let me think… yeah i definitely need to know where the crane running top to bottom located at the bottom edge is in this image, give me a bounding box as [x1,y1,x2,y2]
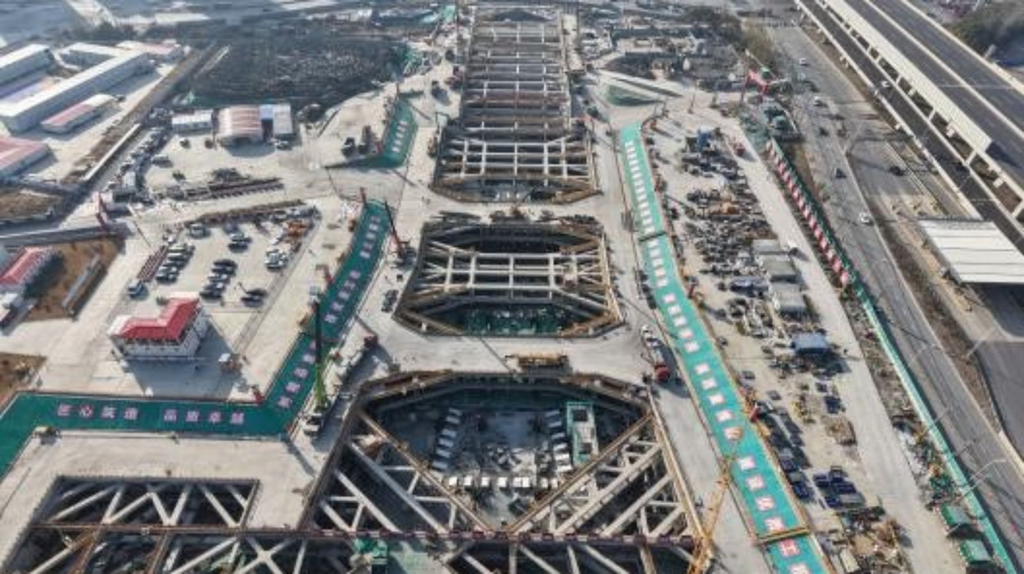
[685,440,737,574]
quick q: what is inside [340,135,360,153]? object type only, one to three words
vehicle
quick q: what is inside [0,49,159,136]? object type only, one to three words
building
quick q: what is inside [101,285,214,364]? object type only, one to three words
house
